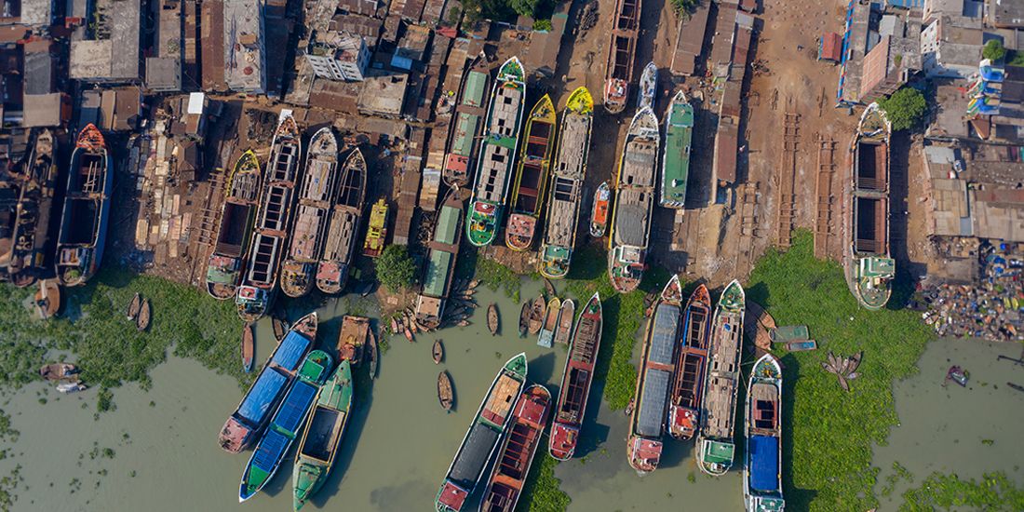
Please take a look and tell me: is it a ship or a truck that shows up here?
ship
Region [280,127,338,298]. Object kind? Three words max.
ship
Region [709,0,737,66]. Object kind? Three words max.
shed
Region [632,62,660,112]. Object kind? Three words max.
boat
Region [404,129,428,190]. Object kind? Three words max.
shed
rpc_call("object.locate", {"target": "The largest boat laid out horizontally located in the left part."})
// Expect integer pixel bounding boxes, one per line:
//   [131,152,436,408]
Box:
[39,362,79,377]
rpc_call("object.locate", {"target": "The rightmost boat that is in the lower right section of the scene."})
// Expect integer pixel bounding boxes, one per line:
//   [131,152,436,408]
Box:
[950,369,965,384]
